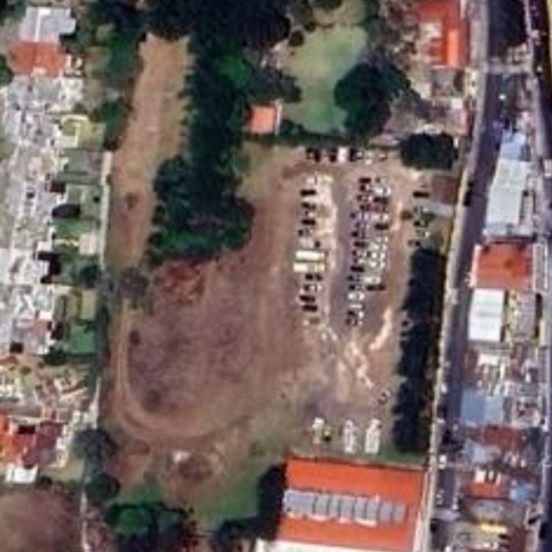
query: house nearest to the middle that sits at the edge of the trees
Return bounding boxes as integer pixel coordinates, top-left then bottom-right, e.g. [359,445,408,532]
[245,99,282,140]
